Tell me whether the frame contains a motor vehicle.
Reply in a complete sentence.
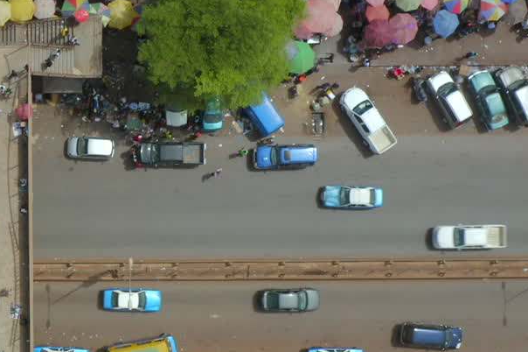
Yes, there's a motor vehicle here.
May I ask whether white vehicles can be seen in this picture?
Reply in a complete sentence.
Yes, a white vehicle is visible in the scene.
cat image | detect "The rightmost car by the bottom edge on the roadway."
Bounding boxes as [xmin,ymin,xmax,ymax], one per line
[396,321,461,352]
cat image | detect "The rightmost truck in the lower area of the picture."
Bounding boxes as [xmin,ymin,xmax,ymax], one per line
[430,222,506,251]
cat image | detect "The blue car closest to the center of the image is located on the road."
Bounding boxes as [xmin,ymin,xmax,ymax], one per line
[250,141,317,172]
